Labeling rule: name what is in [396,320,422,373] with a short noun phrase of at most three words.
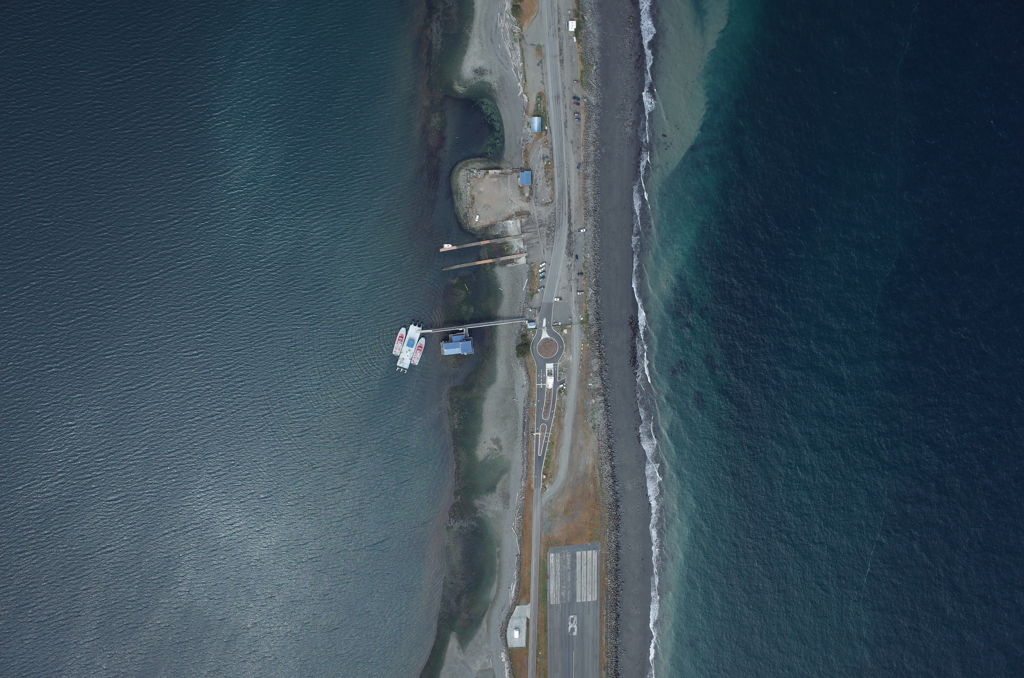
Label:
ship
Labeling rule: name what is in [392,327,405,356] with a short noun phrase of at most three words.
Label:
boat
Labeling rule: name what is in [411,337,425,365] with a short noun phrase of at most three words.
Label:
boat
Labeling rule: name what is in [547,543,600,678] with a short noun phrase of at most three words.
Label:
runway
